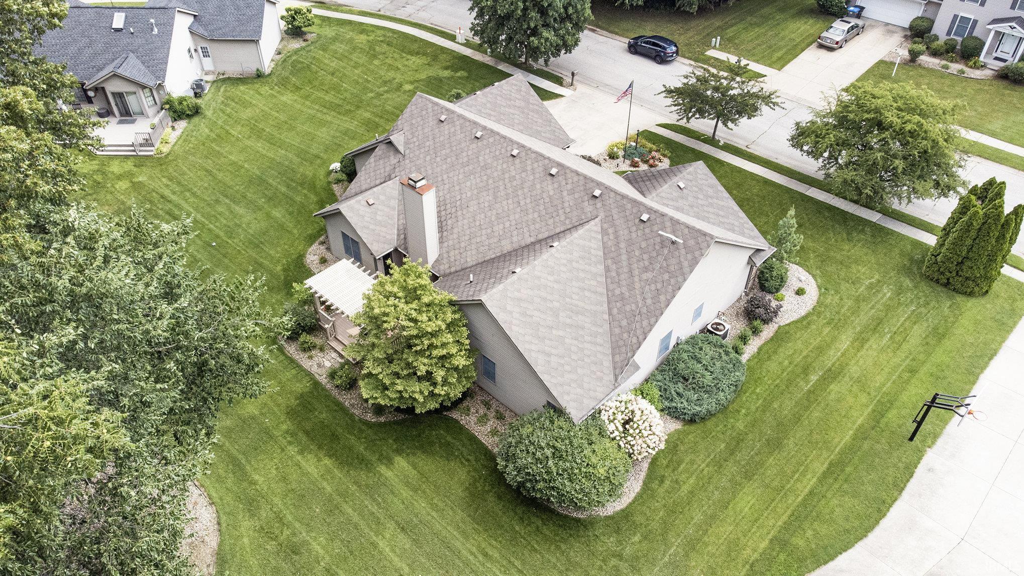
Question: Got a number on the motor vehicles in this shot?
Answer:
2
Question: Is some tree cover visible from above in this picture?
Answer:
Yes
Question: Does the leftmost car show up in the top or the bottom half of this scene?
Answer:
top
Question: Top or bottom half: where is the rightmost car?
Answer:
top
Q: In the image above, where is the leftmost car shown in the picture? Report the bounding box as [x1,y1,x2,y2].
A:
[626,32,682,65]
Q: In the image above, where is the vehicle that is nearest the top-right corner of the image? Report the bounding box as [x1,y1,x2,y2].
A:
[817,18,865,47]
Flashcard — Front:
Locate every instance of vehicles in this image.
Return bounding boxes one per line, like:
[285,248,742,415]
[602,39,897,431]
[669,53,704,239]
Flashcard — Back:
[817,18,865,47]
[626,32,682,65]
